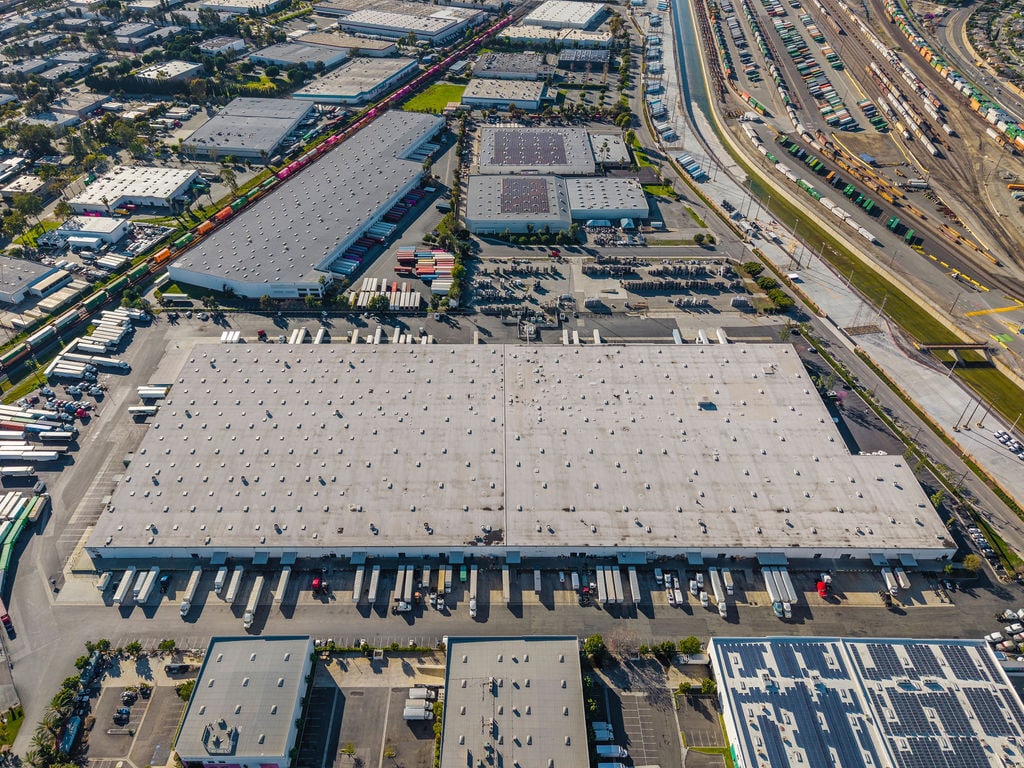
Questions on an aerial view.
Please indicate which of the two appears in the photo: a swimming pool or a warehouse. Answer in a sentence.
This aerial view contains a warehouse.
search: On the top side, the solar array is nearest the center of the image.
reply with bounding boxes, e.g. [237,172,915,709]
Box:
[501,178,549,213]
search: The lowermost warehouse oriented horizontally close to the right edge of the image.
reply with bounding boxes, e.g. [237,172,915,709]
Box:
[707,638,1024,768]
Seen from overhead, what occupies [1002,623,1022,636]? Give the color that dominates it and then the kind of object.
white vehicle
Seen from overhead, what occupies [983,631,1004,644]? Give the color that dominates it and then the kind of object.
white vehicle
